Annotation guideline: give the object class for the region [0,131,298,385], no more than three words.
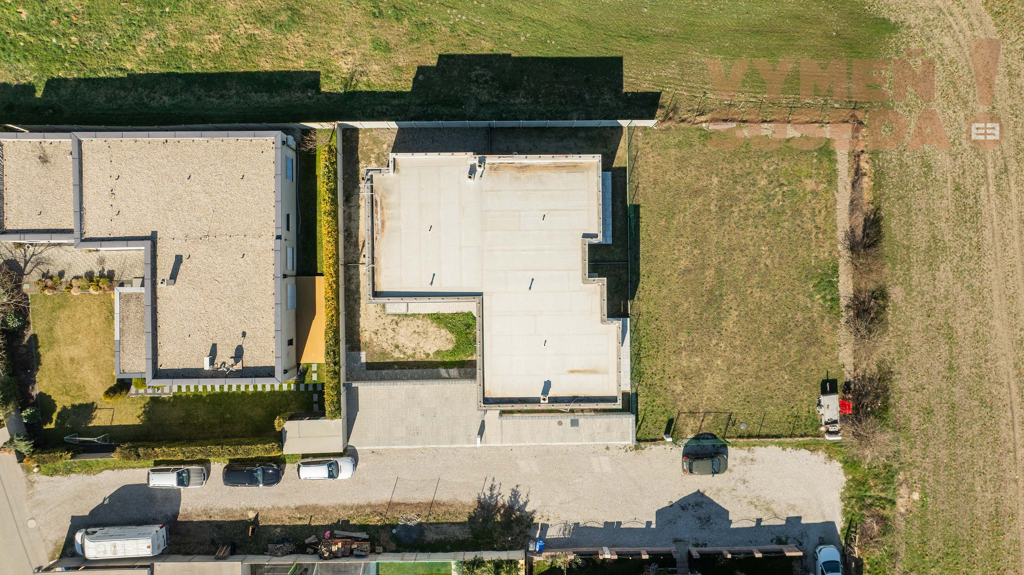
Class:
house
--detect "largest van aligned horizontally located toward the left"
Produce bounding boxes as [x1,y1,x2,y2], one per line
[77,523,169,563]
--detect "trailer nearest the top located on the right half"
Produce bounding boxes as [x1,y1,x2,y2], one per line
[814,380,841,426]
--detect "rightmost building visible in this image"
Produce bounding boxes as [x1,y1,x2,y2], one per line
[364,152,621,410]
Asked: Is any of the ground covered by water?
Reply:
No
